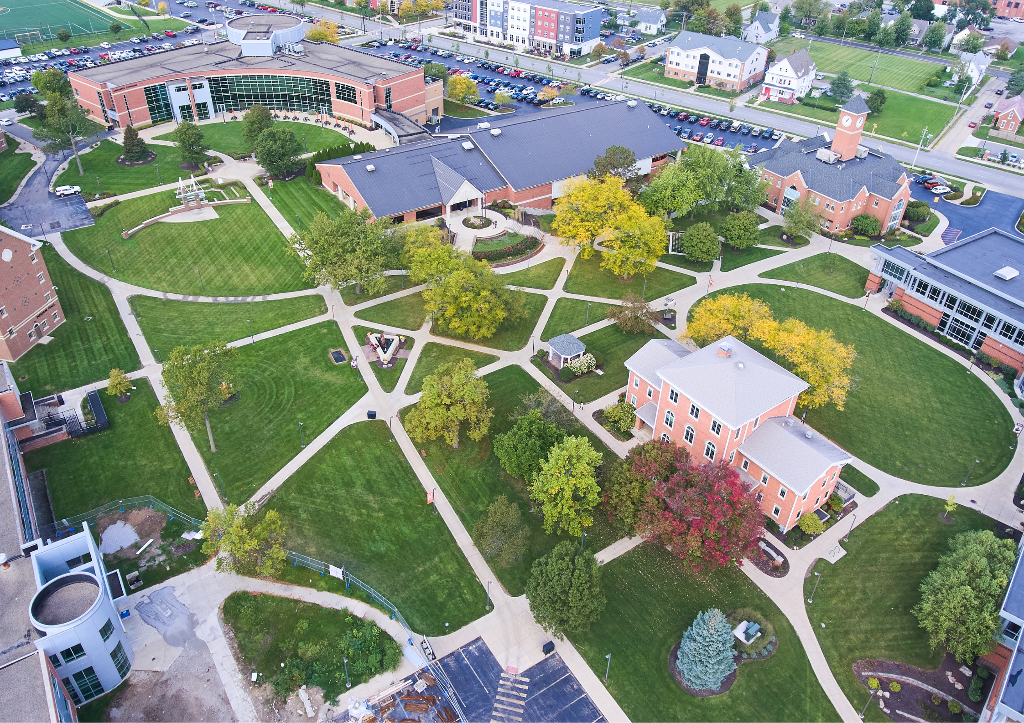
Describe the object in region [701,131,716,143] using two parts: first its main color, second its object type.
white vehicle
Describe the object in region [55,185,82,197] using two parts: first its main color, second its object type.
white vehicle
